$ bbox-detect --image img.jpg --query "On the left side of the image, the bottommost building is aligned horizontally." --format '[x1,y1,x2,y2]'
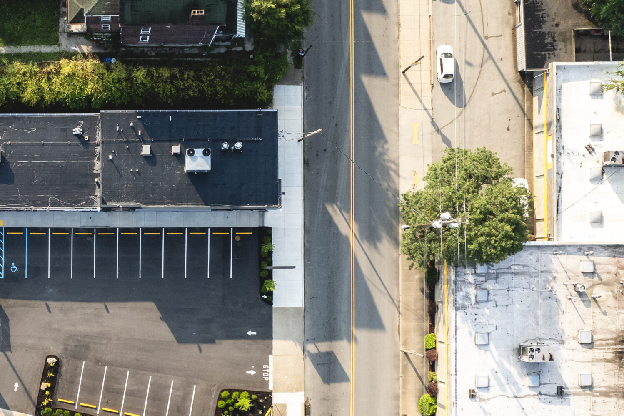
[0,108,279,214]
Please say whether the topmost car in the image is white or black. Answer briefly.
white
